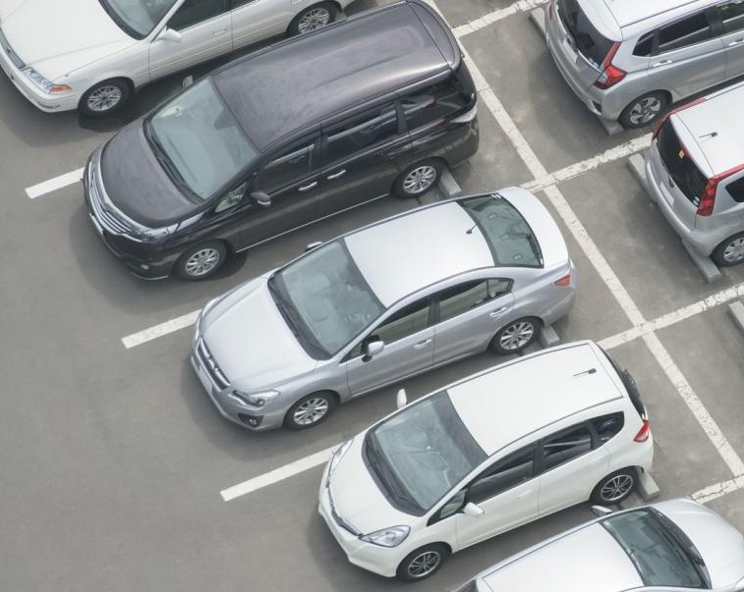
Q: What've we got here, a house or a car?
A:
car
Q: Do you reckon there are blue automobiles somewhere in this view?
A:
No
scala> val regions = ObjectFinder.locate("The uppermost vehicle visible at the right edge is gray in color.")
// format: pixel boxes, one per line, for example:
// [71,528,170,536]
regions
[549,0,744,124]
